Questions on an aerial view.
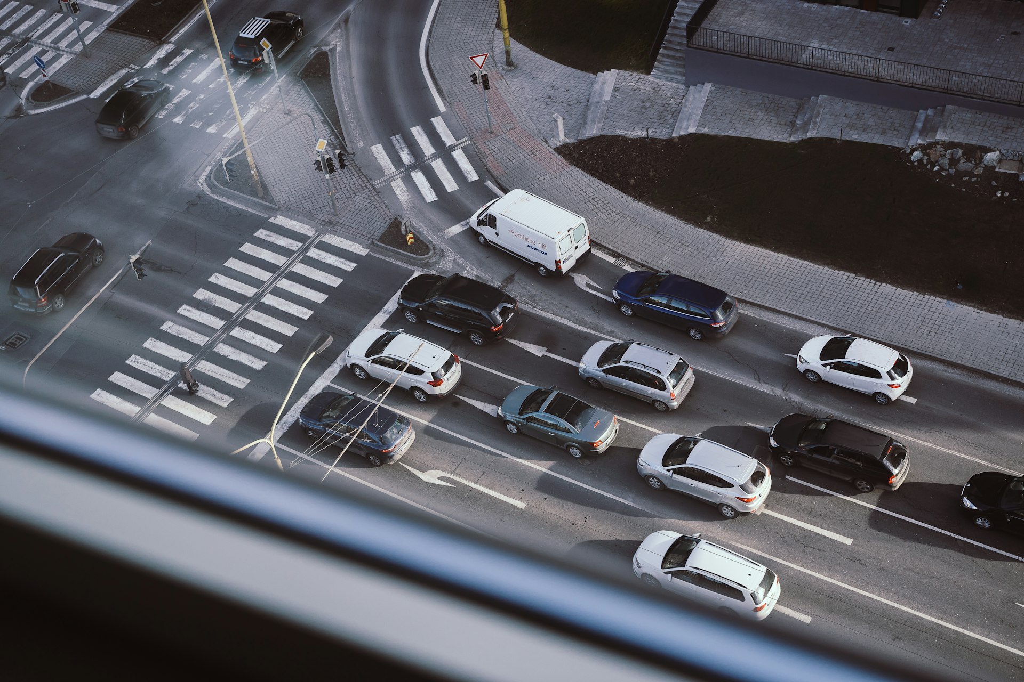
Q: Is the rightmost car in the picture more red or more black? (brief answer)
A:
black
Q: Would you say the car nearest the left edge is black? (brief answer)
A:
Yes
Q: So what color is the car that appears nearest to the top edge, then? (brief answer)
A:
black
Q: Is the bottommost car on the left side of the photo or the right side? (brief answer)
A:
right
